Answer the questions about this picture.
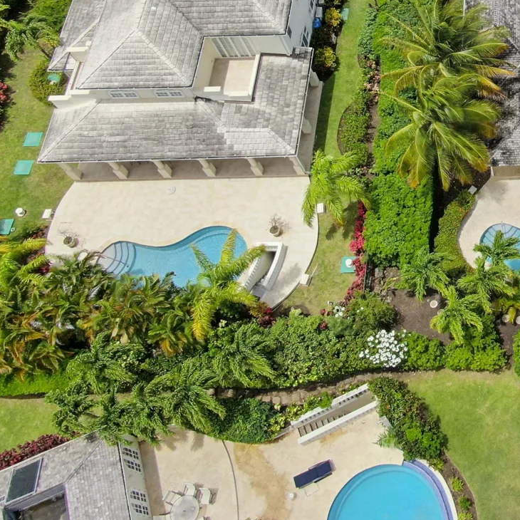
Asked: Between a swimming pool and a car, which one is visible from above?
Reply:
swimming pool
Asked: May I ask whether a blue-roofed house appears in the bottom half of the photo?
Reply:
No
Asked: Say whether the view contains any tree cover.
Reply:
Yes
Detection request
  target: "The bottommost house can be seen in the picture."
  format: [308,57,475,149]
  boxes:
[0,435,145,520]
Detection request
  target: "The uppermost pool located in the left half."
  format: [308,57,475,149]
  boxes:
[91,220,252,292]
